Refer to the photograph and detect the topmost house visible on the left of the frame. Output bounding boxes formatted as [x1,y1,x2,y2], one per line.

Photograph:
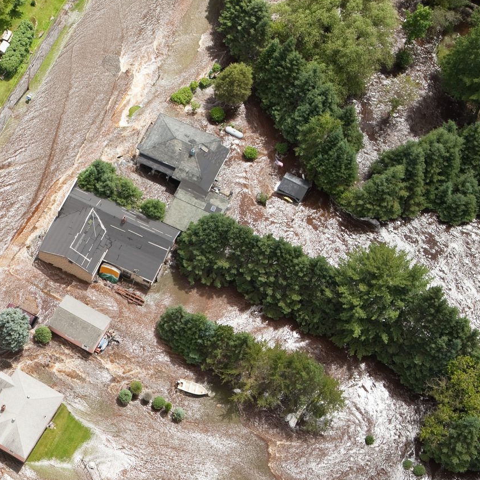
[131,115,232,195]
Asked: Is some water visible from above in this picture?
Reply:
Yes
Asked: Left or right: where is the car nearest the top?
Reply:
left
